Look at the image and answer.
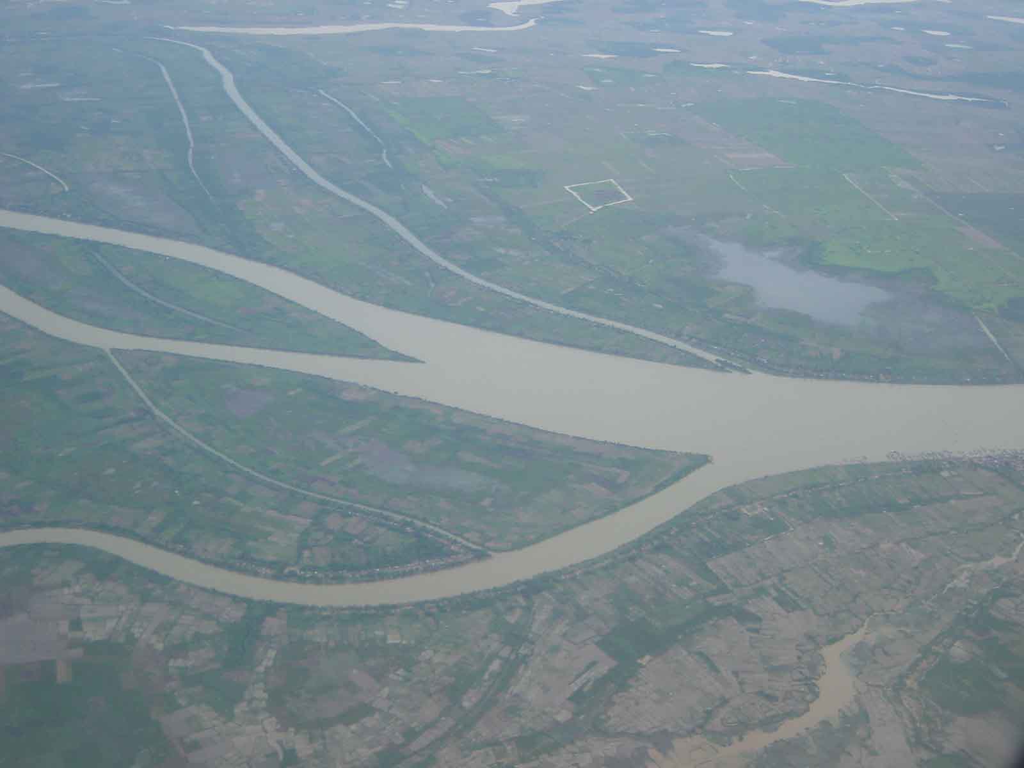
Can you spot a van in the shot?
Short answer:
No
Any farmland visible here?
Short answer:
Yes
